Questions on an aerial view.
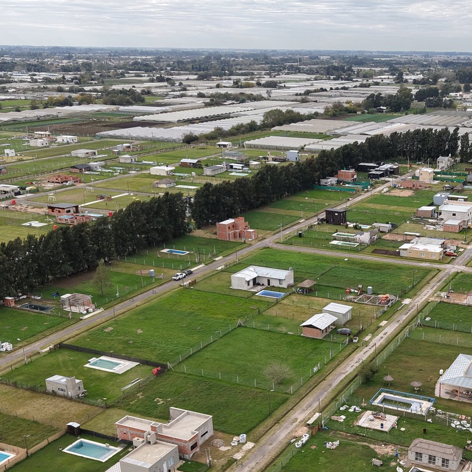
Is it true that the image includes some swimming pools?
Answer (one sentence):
Yes, the photo shows a swimming pool.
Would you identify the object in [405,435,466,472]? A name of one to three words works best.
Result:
house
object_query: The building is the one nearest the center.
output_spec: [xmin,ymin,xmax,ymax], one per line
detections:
[216,217,249,239]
